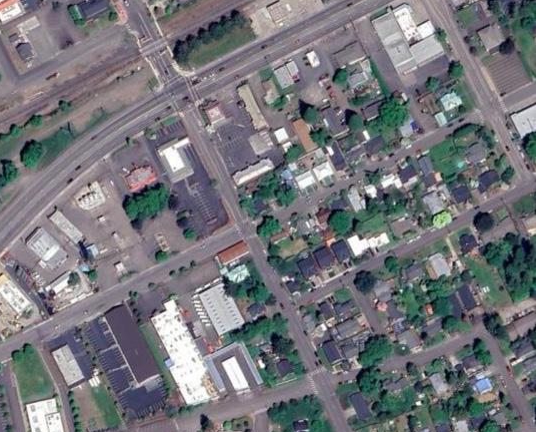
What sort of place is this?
residential area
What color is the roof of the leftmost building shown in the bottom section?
white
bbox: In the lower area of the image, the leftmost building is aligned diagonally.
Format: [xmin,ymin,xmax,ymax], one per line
[0,273,31,315]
